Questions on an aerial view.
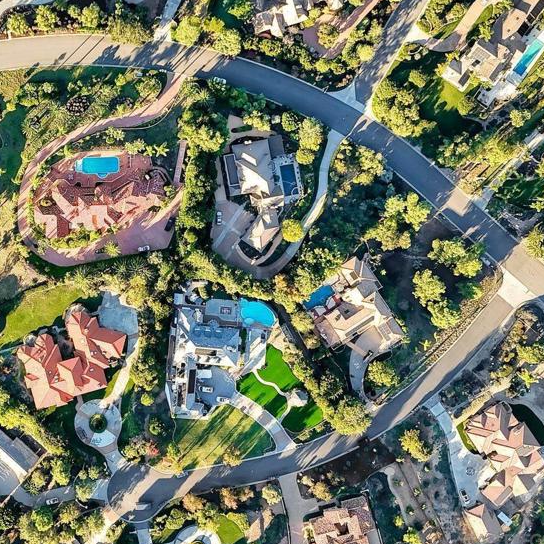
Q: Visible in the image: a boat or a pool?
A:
pool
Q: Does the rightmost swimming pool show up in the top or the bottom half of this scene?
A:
top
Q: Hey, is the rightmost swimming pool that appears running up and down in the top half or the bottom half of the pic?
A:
top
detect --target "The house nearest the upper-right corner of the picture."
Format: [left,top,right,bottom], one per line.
[441,0,543,90]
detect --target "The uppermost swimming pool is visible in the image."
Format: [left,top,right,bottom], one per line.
[512,37,544,78]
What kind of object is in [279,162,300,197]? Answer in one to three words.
swimming pool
